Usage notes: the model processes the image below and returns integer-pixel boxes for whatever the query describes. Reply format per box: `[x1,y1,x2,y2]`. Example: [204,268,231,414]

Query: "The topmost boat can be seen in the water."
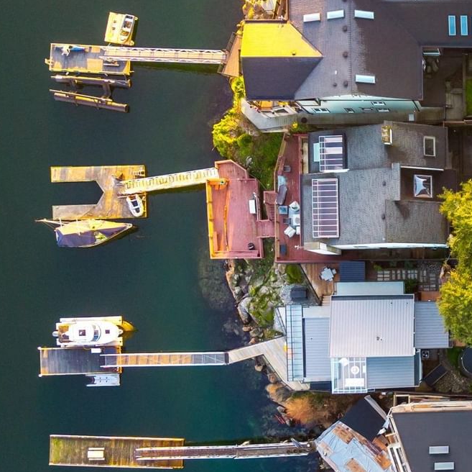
[102,9,138,44]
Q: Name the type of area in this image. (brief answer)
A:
residential area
